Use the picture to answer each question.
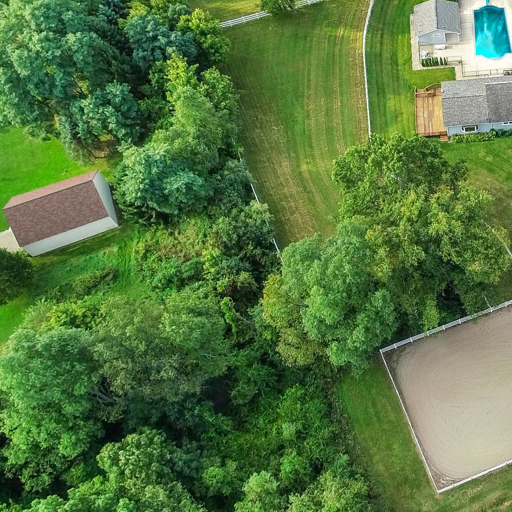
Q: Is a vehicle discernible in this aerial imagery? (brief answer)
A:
No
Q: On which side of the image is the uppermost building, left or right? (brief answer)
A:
right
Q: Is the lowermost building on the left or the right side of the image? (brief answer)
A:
left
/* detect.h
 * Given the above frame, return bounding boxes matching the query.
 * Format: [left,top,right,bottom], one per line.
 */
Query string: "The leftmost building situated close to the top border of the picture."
[416,0,461,43]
